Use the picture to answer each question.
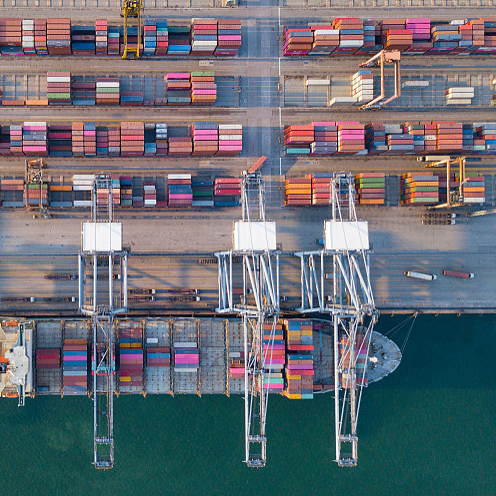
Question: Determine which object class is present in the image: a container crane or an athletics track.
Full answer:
Visible in the photo is a container crane.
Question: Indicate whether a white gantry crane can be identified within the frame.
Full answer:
Yes, the image includes a white gantry crane.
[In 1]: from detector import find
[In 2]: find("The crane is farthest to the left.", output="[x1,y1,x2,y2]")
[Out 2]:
[23,155,50,212]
